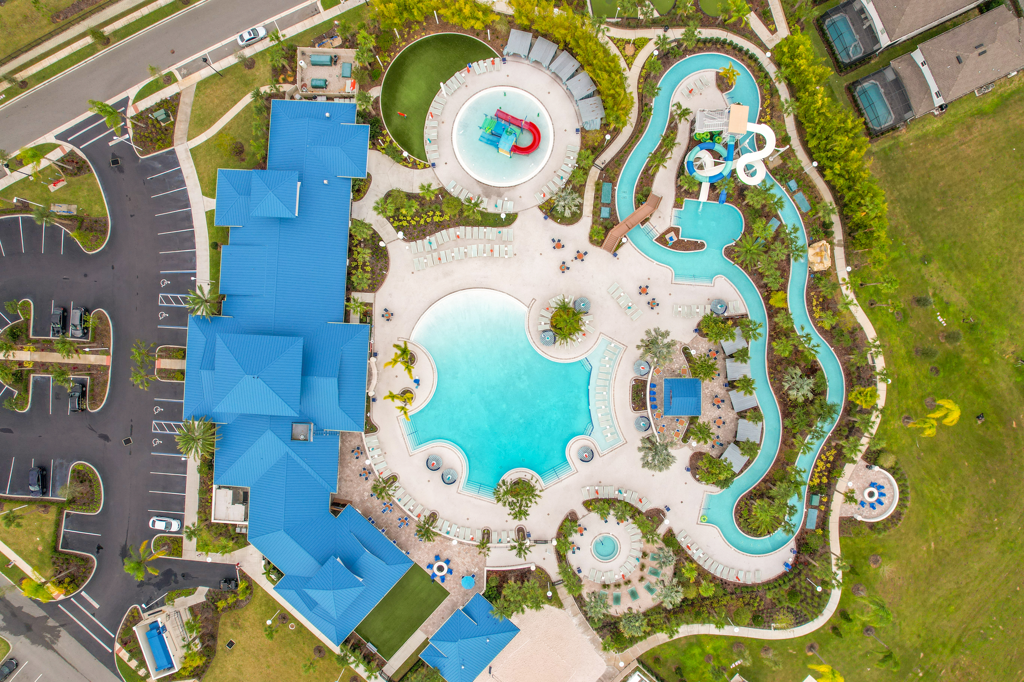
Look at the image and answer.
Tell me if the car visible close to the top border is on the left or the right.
left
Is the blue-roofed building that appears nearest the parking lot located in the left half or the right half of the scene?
left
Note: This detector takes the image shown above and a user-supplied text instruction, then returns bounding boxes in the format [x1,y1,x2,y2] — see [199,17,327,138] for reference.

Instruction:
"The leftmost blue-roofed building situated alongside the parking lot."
[182,98,415,648]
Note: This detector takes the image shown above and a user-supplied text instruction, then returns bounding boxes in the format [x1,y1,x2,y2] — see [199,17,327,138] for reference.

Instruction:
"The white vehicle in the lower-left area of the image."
[145,517,180,535]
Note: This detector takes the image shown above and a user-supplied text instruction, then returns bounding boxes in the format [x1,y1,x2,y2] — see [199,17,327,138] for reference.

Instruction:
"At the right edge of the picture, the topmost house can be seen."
[850,0,987,57]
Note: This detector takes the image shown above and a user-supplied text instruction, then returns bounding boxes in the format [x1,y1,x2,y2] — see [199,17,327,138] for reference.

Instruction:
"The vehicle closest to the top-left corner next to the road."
[233,23,267,48]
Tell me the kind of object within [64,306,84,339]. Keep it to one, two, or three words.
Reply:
car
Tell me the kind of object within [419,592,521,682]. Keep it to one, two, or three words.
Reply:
building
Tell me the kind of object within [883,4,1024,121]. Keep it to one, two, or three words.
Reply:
house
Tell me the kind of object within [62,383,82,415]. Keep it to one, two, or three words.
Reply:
car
